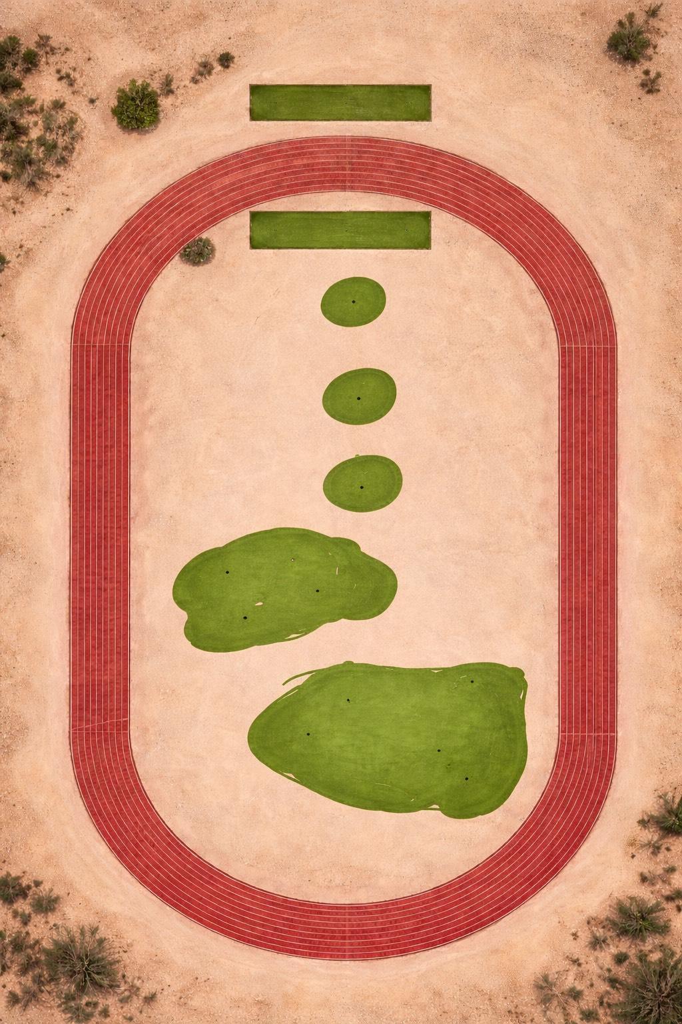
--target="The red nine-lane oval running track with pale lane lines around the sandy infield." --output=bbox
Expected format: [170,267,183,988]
[70,136,618,961]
